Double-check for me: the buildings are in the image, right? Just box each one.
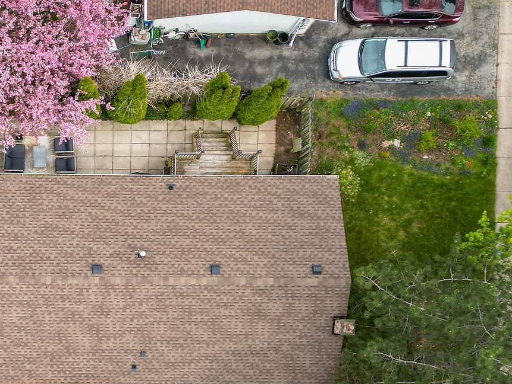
[142,0,340,36]
[0,170,358,384]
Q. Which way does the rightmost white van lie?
from left to right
